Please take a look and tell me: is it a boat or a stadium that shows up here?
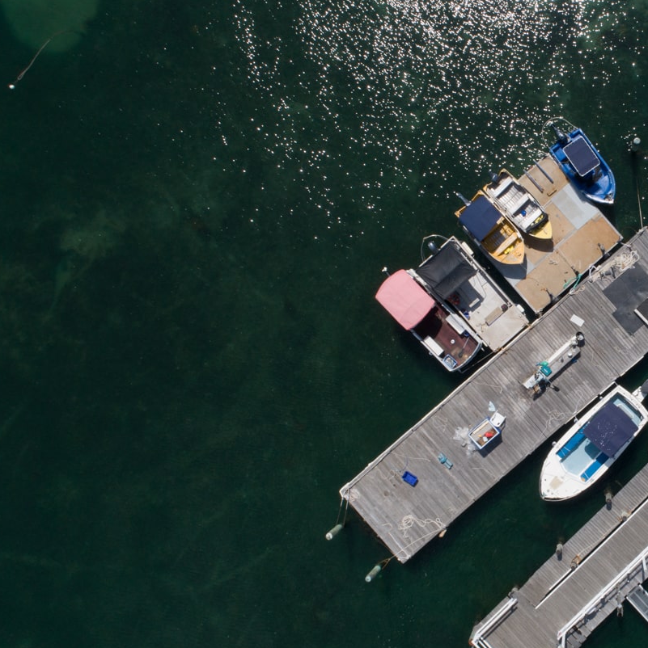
boat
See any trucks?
No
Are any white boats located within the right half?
Yes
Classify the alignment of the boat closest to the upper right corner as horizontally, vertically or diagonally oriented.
diagonally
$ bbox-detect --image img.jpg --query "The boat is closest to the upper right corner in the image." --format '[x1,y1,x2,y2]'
[541,116,615,204]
